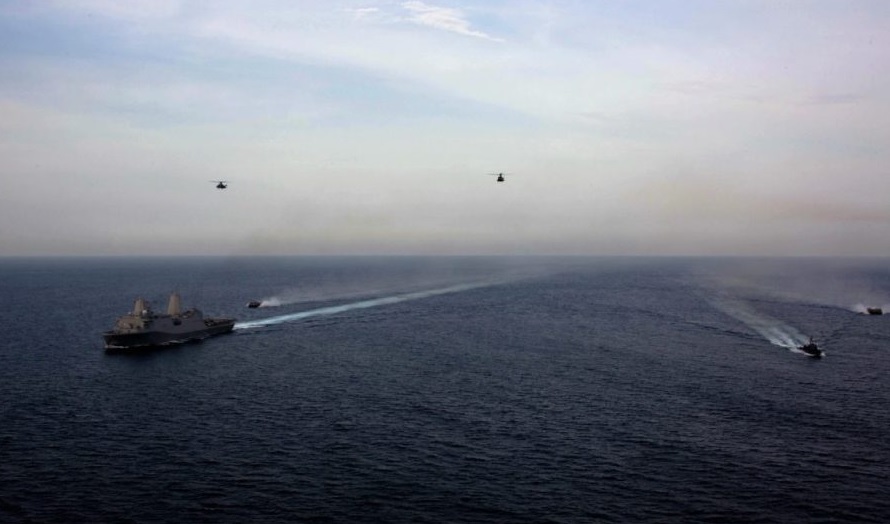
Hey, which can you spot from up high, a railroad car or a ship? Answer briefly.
ship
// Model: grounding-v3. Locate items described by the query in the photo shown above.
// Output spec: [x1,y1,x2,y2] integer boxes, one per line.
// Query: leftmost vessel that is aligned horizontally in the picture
[103,292,239,347]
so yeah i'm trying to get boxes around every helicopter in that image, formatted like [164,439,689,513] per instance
[216,182,231,189]
[495,173,512,181]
